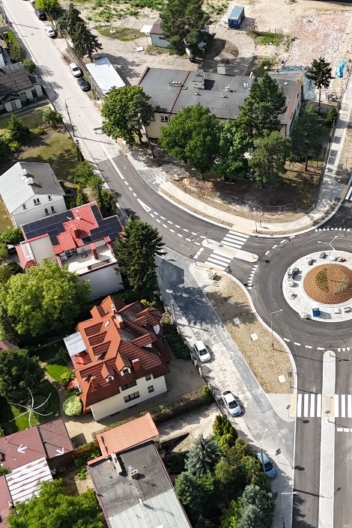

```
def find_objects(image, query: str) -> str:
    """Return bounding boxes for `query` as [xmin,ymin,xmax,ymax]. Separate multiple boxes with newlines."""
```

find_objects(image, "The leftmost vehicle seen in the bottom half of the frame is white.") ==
[193,340,213,364]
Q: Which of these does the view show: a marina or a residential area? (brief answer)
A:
residential area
